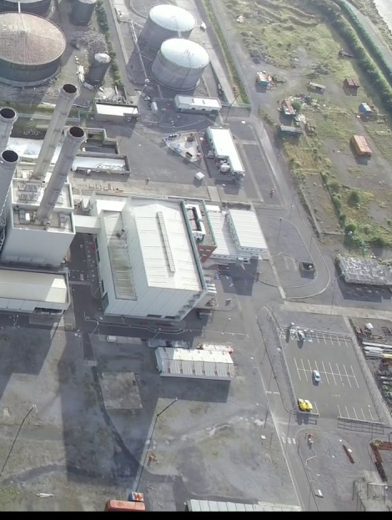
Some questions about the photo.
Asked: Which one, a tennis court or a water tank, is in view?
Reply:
water tank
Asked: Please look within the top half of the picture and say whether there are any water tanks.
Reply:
Yes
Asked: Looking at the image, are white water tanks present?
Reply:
Yes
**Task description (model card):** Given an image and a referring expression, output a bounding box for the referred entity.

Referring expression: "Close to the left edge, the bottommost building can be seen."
[0,269,70,314]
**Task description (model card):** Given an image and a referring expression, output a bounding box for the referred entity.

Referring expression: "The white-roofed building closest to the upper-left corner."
[91,102,139,125]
